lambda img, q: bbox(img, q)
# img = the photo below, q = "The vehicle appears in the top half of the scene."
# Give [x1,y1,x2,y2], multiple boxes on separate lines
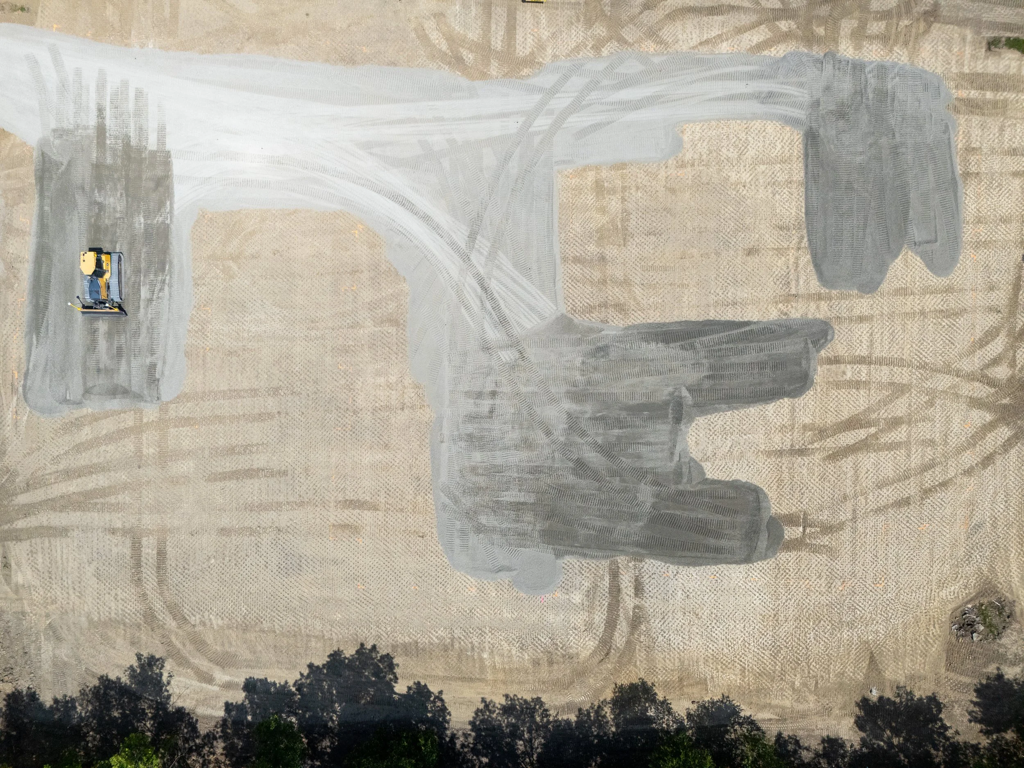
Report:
[68,251,126,319]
